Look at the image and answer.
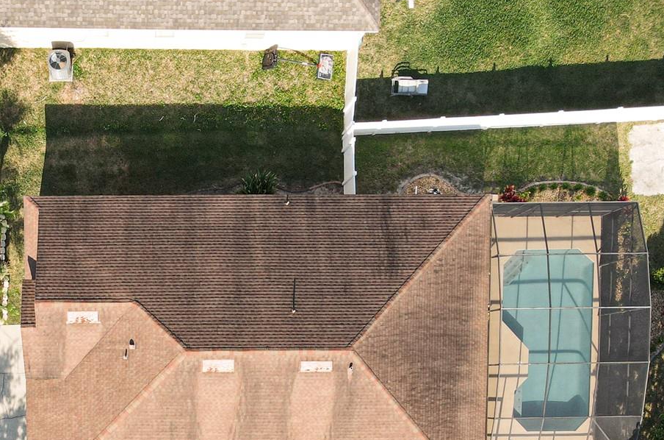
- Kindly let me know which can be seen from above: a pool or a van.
pool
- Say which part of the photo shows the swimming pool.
bottom right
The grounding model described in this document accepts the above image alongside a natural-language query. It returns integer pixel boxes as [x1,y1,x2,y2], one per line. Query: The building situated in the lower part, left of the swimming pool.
[19,192,499,440]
